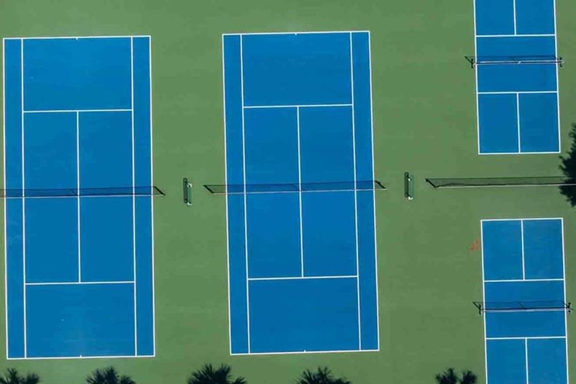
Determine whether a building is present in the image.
No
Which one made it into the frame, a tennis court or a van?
tennis court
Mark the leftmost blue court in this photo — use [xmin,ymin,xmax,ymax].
[2,35,156,360]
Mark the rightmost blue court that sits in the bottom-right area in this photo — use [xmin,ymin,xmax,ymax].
[482,218,568,384]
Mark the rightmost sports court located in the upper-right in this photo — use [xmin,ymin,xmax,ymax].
[474,0,560,154]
